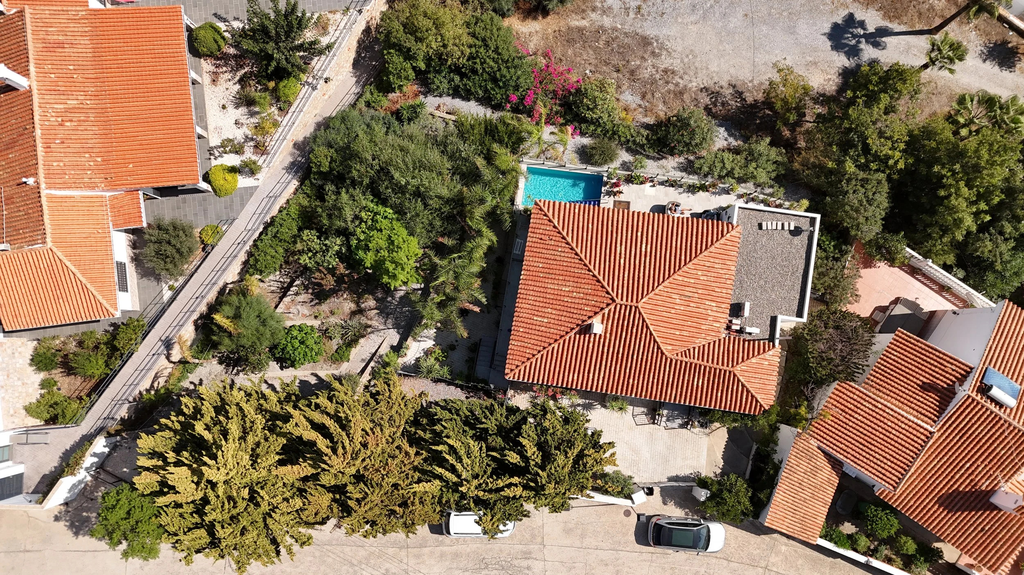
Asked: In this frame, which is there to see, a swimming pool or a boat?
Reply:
swimming pool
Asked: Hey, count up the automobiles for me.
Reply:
two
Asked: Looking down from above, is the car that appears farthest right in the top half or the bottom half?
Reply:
bottom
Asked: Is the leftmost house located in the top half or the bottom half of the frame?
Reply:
bottom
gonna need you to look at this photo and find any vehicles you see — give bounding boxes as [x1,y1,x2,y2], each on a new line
[647,515,725,557]
[443,507,516,545]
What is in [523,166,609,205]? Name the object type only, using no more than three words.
swimming pool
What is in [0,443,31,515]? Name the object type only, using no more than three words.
house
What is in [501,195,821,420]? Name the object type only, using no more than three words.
house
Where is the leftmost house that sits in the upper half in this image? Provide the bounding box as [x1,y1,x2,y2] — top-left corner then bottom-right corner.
[0,0,209,337]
